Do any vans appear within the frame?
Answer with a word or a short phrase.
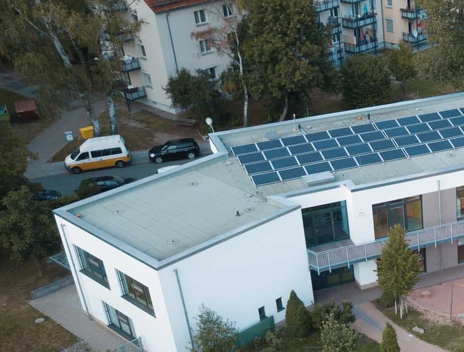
Yes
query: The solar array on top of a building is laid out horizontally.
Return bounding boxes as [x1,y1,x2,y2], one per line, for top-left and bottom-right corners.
[231,105,464,187]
